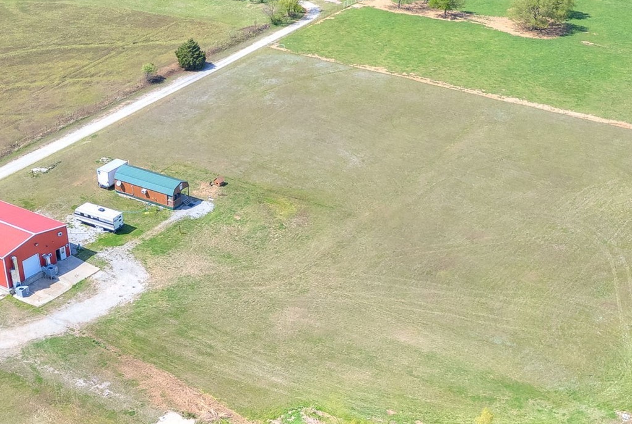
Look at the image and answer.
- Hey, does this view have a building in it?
Yes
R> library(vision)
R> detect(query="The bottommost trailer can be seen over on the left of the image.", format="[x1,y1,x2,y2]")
[75,197,125,229]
